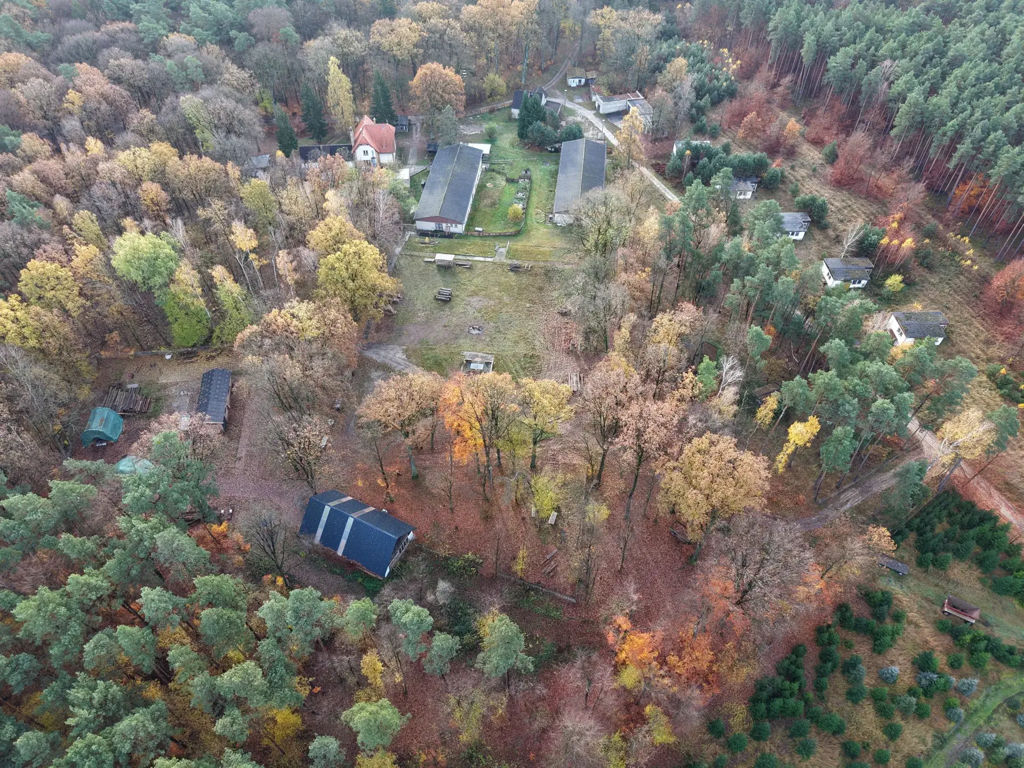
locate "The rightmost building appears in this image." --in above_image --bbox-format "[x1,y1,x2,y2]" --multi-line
[892,311,947,345]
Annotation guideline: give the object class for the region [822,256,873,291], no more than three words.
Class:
building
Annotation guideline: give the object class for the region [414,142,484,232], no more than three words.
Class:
barn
